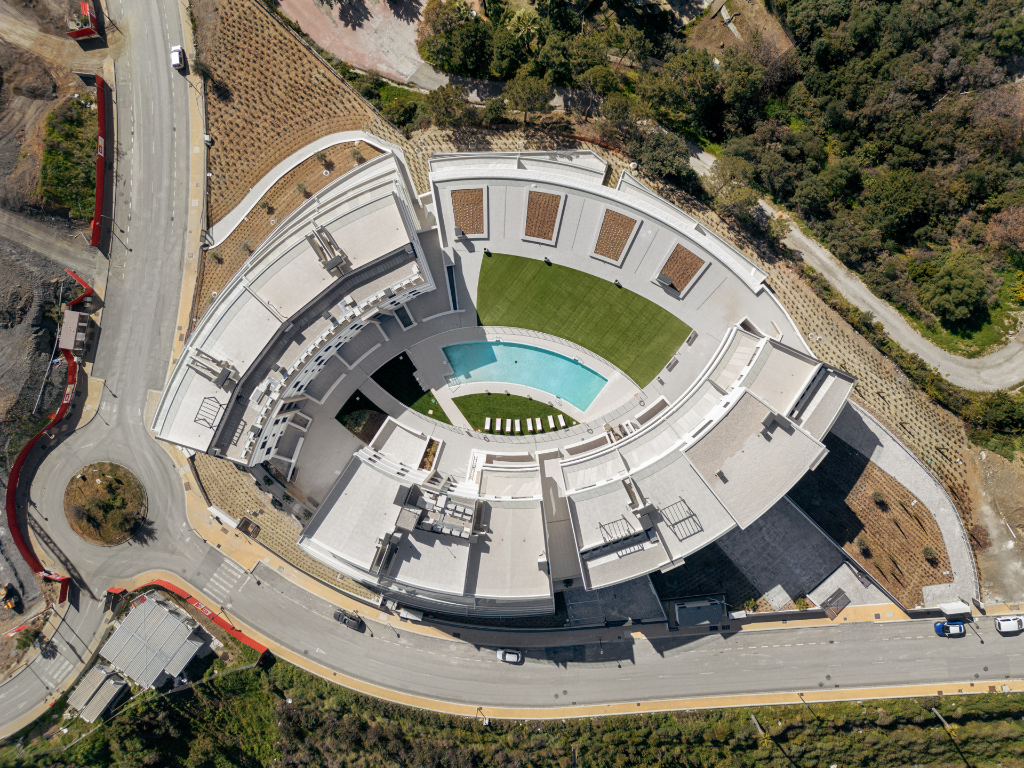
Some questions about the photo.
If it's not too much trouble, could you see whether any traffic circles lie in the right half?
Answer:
No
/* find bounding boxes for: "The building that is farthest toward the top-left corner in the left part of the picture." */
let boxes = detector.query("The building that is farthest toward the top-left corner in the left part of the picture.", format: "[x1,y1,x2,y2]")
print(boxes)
[59,310,93,351]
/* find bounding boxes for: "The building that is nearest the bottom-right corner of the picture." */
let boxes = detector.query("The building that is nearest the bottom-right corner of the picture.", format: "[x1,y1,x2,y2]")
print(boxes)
[674,598,728,627]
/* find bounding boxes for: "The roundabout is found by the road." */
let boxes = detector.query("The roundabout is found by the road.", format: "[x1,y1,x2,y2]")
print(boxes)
[62,461,148,546]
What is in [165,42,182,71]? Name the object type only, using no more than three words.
car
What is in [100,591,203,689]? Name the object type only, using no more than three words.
shed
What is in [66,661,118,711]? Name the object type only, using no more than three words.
shed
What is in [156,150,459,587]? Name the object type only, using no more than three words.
building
